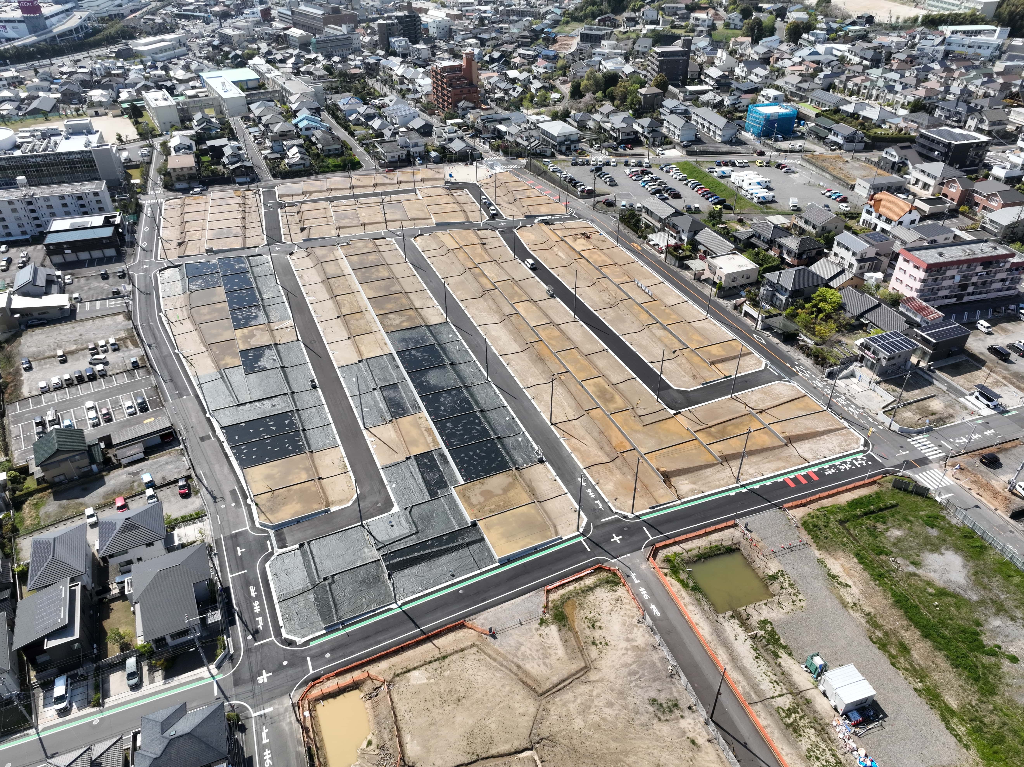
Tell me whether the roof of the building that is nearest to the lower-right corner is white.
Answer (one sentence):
Yes, the roof of the building that is nearest to the lower-right corner is white.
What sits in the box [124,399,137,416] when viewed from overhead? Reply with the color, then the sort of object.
white vehicle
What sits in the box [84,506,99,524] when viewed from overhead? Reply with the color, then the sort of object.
white car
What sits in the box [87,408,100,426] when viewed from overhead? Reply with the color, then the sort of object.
white vehicle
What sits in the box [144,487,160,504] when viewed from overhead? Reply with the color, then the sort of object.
white car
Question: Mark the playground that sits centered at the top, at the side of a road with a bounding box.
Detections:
[445,162,504,184]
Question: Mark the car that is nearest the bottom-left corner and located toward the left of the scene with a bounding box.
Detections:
[52,676,70,712]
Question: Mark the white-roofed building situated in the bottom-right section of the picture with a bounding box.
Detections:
[820,664,876,713]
